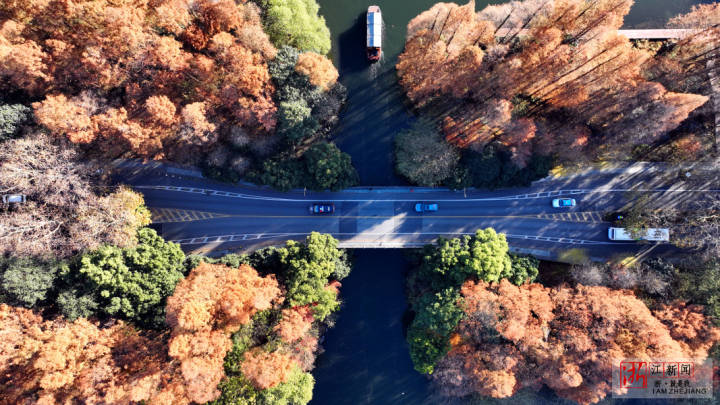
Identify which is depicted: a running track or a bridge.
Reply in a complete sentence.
Looking from above, you can make out a bridge.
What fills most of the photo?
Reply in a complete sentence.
The bulk of the photo consists of trees.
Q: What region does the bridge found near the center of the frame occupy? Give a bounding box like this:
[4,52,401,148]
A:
[329,186,434,248]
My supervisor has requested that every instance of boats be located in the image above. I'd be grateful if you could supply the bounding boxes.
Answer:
[367,6,384,68]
